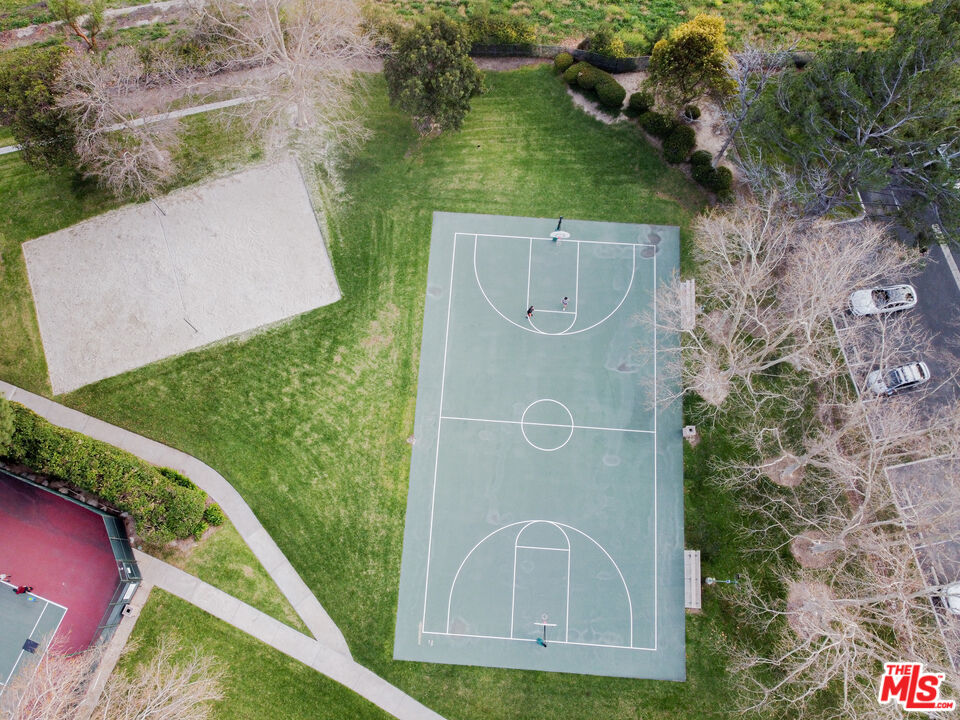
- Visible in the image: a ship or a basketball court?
basketball court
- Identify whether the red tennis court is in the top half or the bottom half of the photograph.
bottom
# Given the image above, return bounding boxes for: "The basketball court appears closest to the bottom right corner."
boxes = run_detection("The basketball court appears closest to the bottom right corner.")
[393,211,685,681]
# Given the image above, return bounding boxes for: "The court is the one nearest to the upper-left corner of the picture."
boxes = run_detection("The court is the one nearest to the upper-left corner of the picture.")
[22,160,341,394]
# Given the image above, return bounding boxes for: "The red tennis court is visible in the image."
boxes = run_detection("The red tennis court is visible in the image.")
[0,461,130,720]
